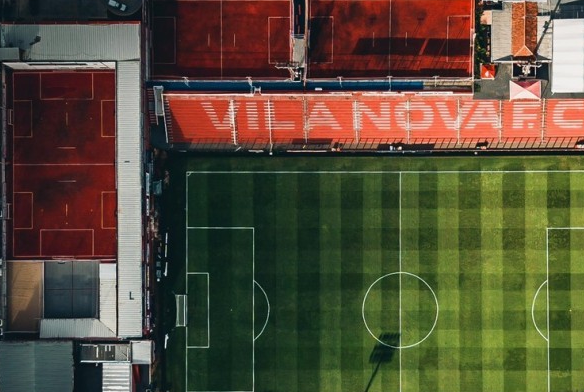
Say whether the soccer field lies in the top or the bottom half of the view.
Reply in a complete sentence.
You can find the soccer field in the bottom half.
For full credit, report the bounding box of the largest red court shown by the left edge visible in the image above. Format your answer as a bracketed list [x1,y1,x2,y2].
[9,65,117,258]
